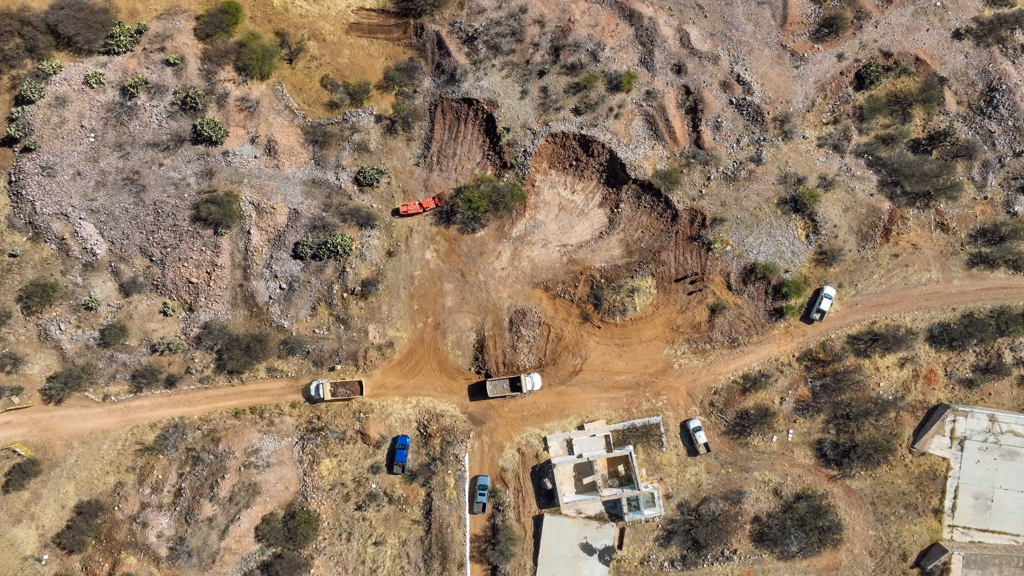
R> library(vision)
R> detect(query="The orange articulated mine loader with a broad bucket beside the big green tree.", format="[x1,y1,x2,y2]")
[399,190,452,215]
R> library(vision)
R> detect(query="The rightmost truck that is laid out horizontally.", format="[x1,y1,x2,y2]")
[485,377,543,403]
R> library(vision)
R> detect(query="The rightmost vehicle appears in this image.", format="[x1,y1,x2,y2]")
[807,284,833,324]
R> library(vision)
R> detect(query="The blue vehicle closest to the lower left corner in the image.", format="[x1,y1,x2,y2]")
[392,434,410,474]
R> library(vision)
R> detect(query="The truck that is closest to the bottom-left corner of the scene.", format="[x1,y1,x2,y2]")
[312,380,366,404]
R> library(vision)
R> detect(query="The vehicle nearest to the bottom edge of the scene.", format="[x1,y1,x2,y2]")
[473,474,490,514]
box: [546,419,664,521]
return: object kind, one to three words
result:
house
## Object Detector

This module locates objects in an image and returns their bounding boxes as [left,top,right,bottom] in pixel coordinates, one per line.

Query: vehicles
[685,416,713,457]
[473,474,490,514]
[485,377,543,403]
[399,190,452,215]
[807,284,833,324]
[312,380,366,404]
[392,434,410,474]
